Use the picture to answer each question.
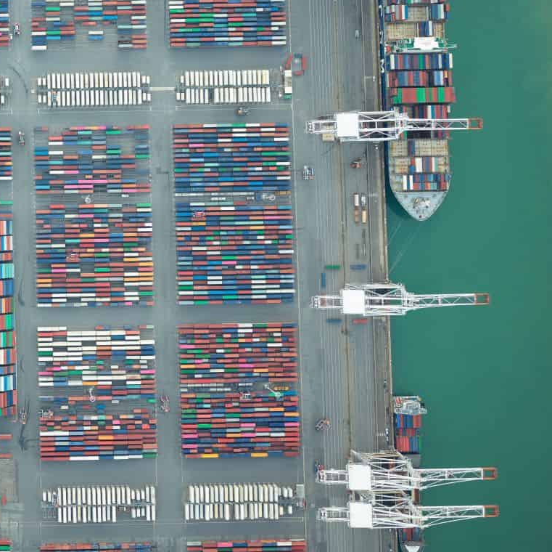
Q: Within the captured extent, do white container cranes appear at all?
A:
Yes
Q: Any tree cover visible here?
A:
No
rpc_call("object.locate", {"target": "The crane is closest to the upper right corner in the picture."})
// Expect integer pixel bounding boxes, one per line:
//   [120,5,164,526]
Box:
[304,110,486,146]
